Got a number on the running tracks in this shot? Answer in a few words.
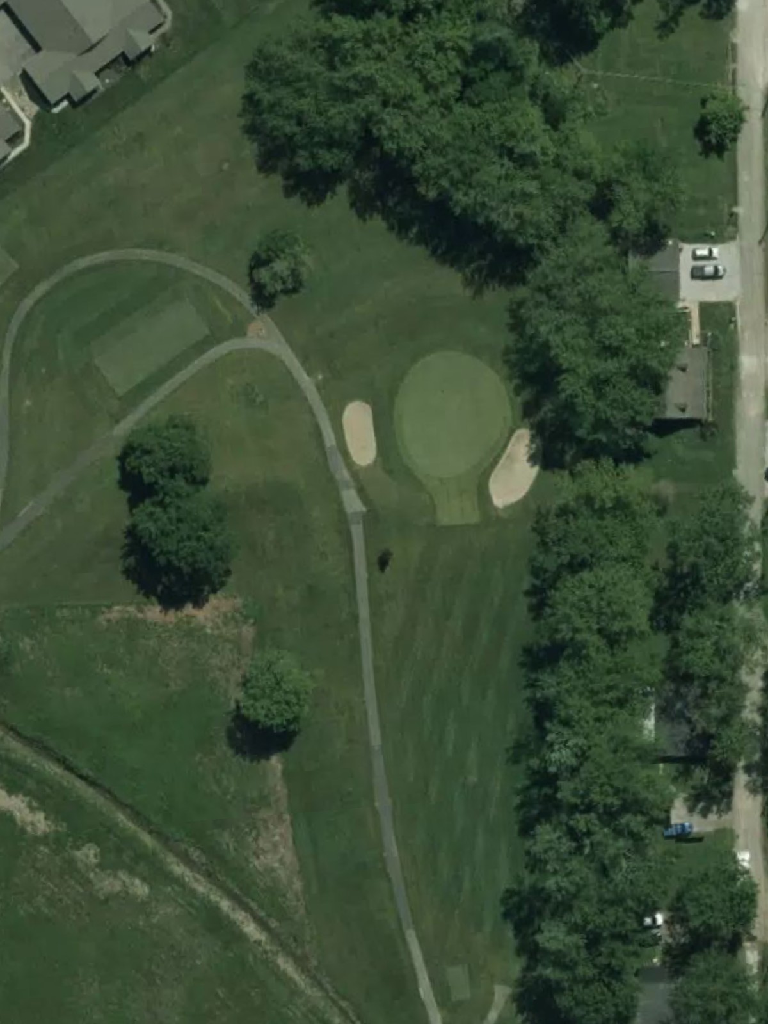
0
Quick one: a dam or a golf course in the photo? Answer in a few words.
golf course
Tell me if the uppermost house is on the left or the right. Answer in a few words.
left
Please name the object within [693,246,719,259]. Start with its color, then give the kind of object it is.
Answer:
white vehicle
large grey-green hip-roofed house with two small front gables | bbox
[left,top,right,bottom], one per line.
[6,0,165,104]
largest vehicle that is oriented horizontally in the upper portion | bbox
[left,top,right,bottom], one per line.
[690,265,725,279]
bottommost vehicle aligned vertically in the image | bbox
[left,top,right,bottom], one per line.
[738,849,751,879]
